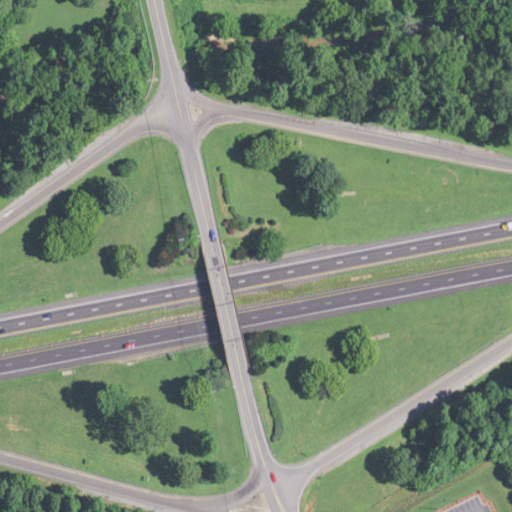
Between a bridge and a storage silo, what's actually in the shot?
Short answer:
bridge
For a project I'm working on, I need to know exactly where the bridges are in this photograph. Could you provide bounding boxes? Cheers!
[203,246,248,363]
